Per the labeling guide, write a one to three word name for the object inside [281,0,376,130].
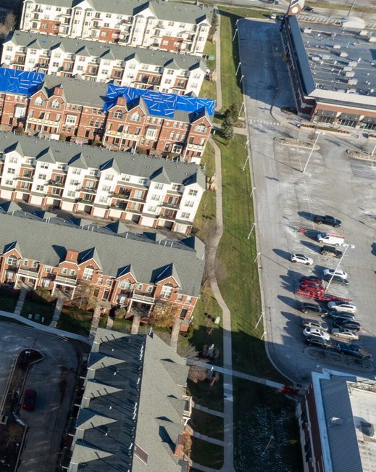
building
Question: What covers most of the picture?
buildings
